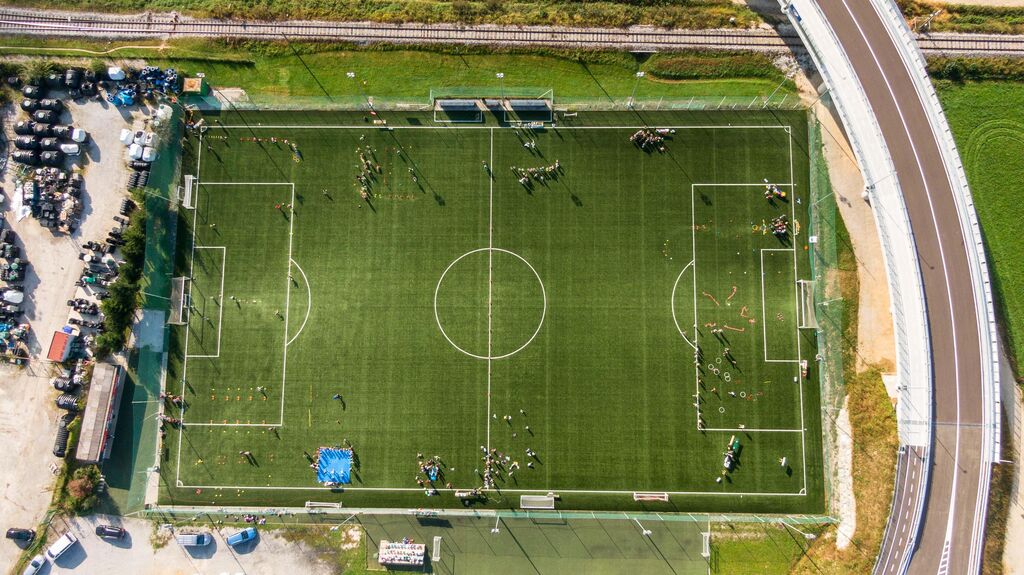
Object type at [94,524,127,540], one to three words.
car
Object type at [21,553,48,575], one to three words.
car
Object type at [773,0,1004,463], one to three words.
bridge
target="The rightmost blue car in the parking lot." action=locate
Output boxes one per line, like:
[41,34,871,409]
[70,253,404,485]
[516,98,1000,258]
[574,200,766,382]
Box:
[225,527,259,547]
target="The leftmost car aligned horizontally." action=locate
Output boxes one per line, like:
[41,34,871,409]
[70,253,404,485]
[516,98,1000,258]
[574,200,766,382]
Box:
[6,528,37,542]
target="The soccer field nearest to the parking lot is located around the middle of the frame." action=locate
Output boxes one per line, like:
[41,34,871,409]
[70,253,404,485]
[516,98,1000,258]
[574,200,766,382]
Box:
[158,109,826,513]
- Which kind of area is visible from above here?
sports ground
